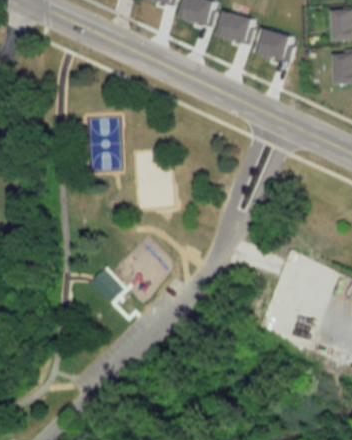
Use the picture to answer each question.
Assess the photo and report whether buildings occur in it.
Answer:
Yes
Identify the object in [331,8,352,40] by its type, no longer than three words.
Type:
house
